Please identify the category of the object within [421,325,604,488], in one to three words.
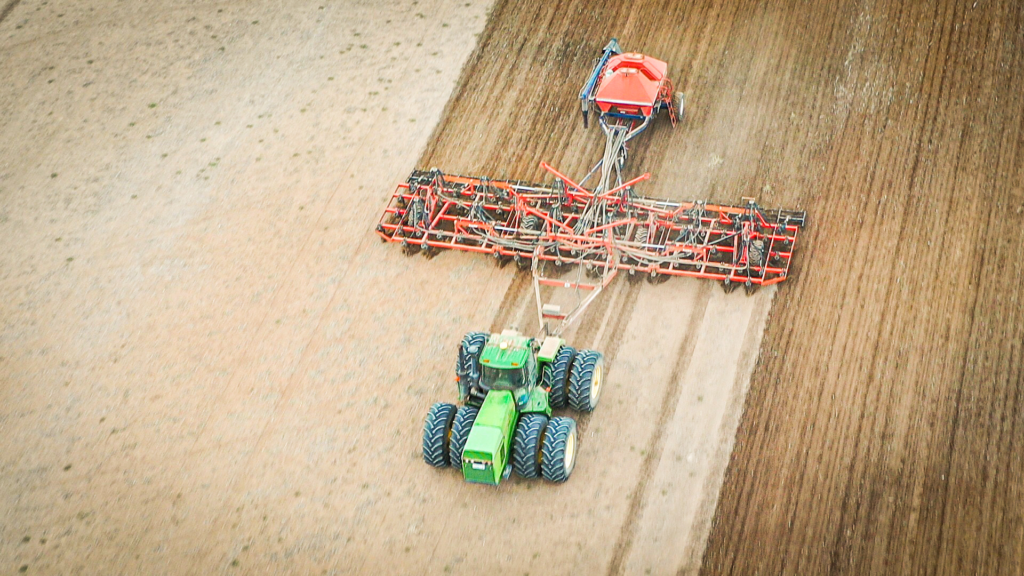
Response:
work vehicle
